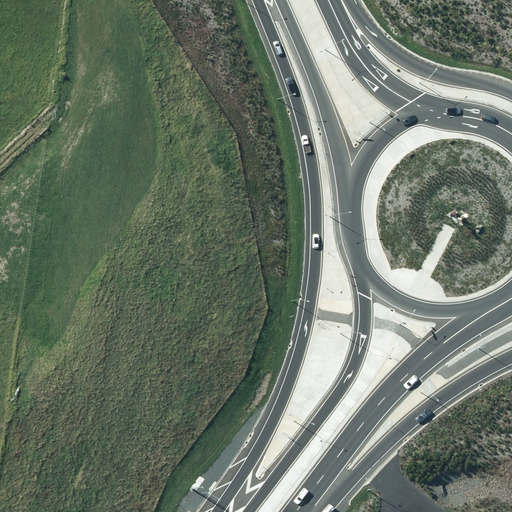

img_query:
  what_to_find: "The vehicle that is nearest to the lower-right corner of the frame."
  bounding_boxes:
[417,410,434,424]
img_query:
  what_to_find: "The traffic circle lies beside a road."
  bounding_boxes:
[334,93,512,322]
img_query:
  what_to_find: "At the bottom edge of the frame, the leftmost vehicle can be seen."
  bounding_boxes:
[294,488,309,504]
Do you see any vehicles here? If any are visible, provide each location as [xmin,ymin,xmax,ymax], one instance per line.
[294,488,309,504]
[274,41,284,56]
[482,114,498,124]
[417,410,434,424]
[404,115,420,126]
[447,108,462,115]
[321,504,332,512]
[313,234,320,249]
[404,376,419,388]
[302,135,312,154]
[288,78,298,94]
